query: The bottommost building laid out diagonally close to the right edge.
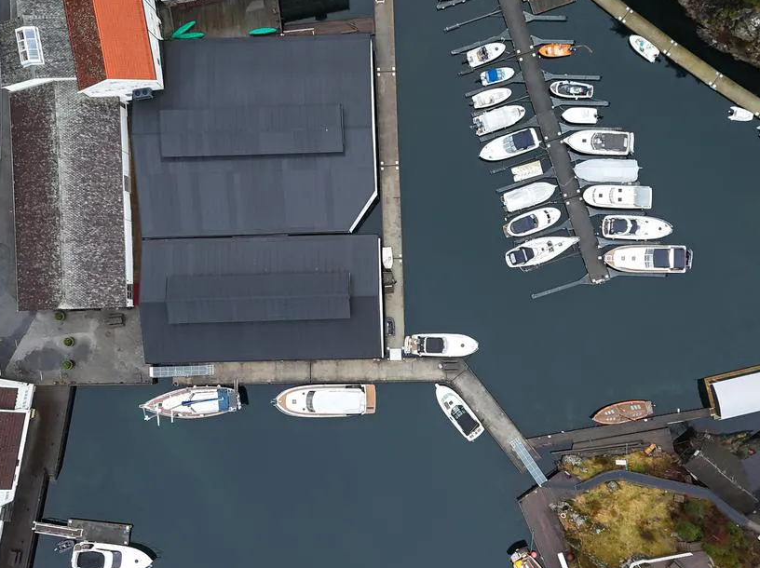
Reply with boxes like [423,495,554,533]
[679,438,758,516]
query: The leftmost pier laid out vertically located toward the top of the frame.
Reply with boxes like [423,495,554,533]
[376,0,405,351]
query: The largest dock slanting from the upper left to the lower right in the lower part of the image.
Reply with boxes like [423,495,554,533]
[446,358,542,472]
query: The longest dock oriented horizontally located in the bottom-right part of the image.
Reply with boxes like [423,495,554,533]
[529,406,712,455]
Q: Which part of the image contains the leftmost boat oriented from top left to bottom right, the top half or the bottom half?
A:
bottom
